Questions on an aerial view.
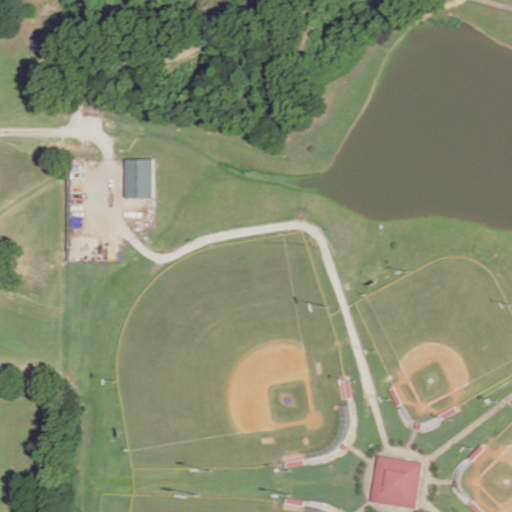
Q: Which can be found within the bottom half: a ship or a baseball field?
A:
baseball field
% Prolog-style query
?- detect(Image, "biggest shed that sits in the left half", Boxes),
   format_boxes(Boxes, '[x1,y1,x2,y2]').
[124,158,154,198]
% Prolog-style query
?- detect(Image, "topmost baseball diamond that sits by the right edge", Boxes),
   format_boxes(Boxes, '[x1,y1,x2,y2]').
[357,257,512,423]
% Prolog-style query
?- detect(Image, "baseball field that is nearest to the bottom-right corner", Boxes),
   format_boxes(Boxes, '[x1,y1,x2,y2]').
[461,422,512,512]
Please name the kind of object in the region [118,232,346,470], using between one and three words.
baseball field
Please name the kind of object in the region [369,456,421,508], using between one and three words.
building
